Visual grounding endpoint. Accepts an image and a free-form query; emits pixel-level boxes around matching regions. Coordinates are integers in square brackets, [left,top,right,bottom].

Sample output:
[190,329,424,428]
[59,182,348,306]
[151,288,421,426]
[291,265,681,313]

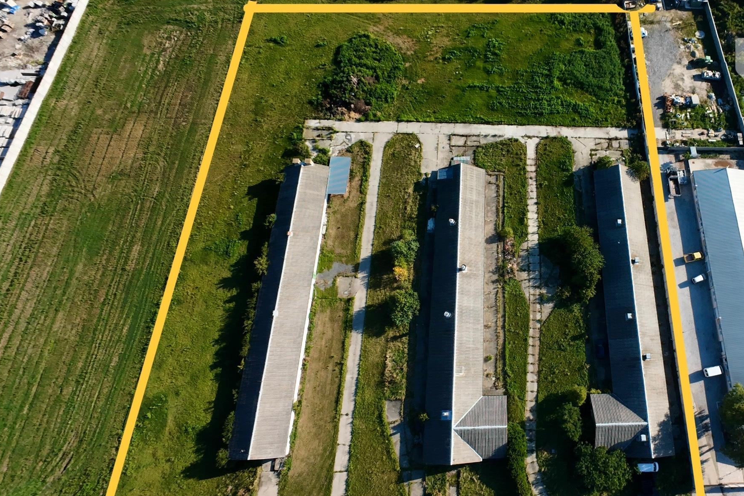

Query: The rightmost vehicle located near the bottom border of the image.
[635,461,660,474]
